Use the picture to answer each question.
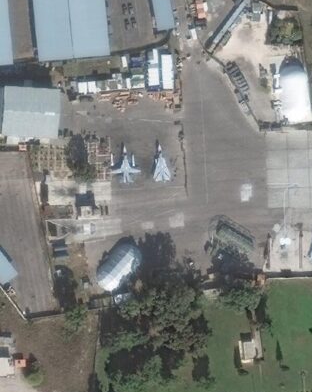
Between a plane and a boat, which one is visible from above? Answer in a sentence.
Visible in the photo is a plane.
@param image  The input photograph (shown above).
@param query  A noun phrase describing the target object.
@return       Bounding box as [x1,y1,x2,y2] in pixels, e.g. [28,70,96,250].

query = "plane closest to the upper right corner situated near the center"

[155,143,172,182]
